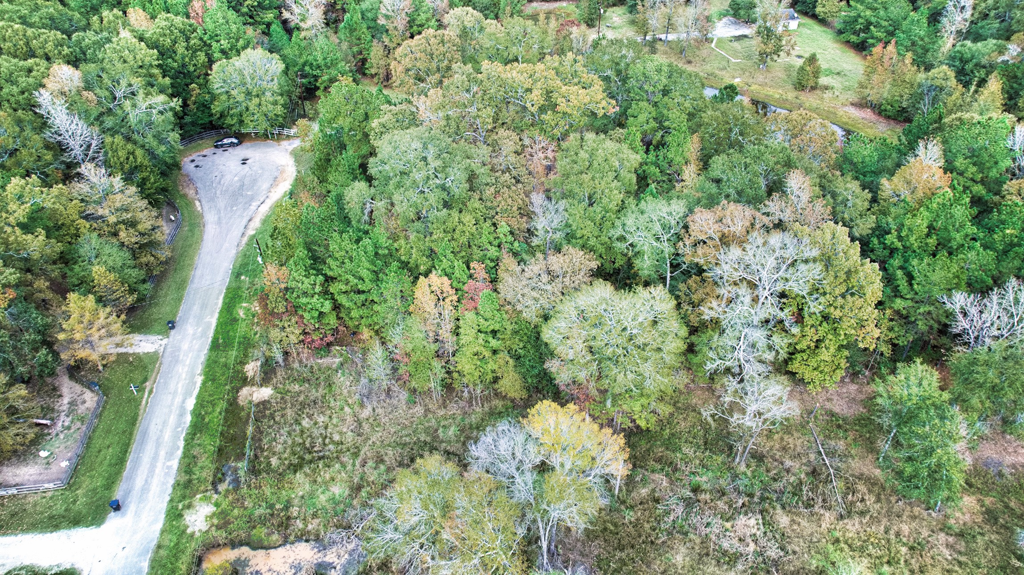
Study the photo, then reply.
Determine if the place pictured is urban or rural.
rural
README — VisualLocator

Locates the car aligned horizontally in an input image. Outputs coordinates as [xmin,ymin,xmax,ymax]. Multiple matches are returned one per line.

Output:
[213,133,242,146]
